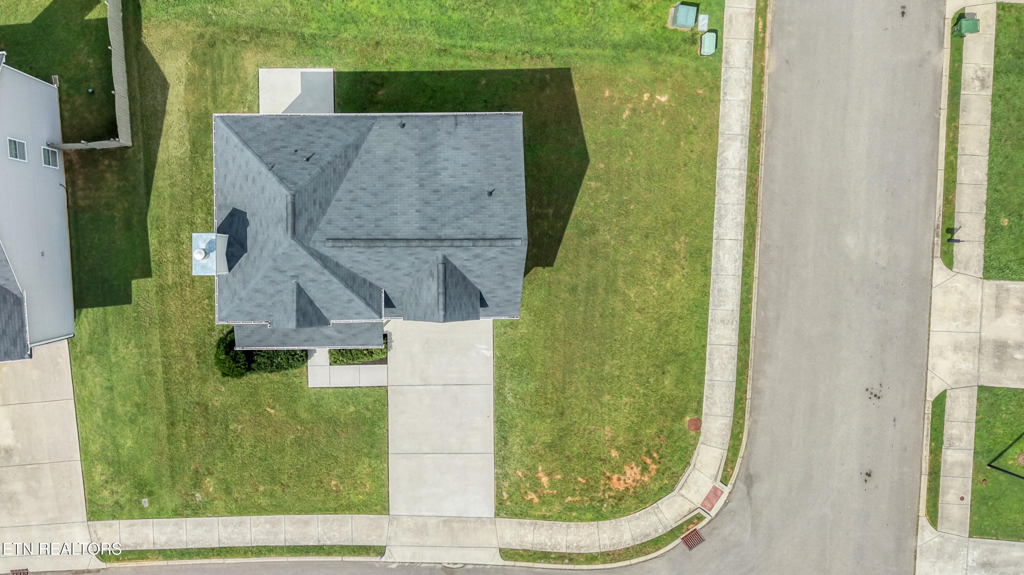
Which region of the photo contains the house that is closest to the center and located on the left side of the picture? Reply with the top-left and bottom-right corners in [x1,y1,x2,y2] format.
[193,110,529,352]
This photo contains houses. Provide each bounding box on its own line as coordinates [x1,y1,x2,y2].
[0,52,74,363]
[193,110,529,352]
